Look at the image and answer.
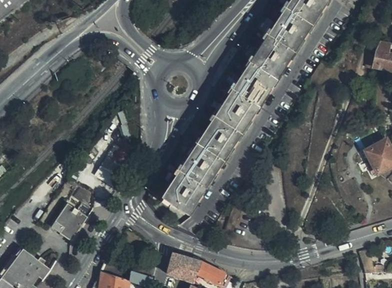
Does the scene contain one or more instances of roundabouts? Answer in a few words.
Yes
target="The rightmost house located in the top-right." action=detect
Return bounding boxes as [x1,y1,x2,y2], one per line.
[370,40,392,74]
